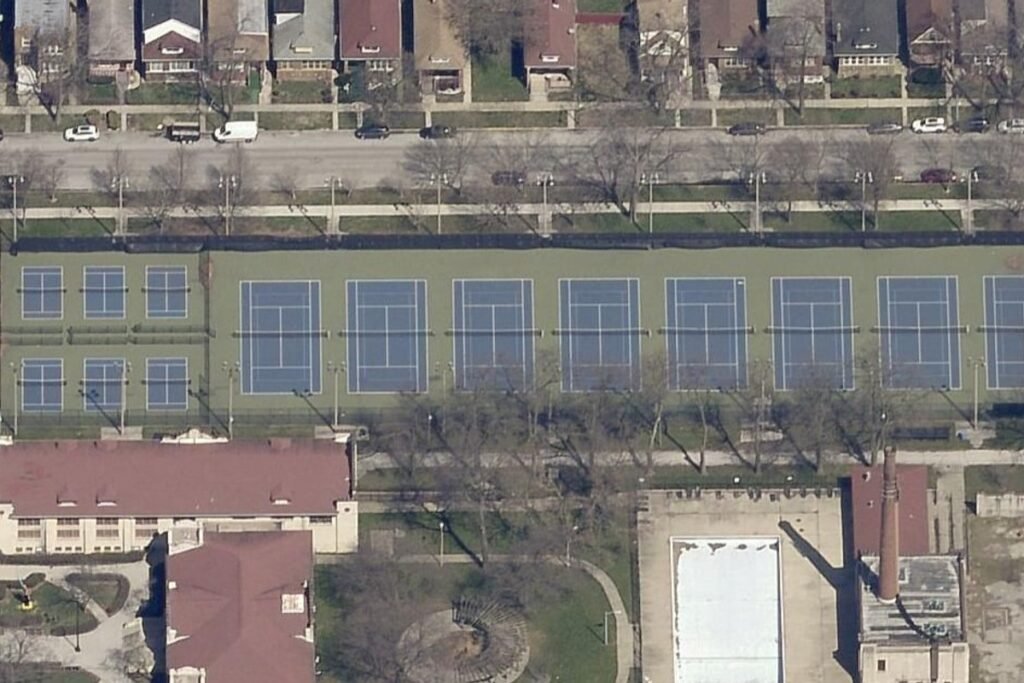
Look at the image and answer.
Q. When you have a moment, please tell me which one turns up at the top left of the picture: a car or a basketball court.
car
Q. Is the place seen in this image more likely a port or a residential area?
residential area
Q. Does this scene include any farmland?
No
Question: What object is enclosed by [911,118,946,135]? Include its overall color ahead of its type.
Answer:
white car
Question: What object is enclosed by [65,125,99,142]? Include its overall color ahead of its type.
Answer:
white car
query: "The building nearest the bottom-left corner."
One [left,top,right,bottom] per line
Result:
[0,425,371,683]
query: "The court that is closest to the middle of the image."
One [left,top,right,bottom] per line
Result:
[452,278,535,392]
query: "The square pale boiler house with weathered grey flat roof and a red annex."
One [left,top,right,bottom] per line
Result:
[851,465,969,683]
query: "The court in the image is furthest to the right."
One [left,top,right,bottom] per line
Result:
[982,275,1024,389]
